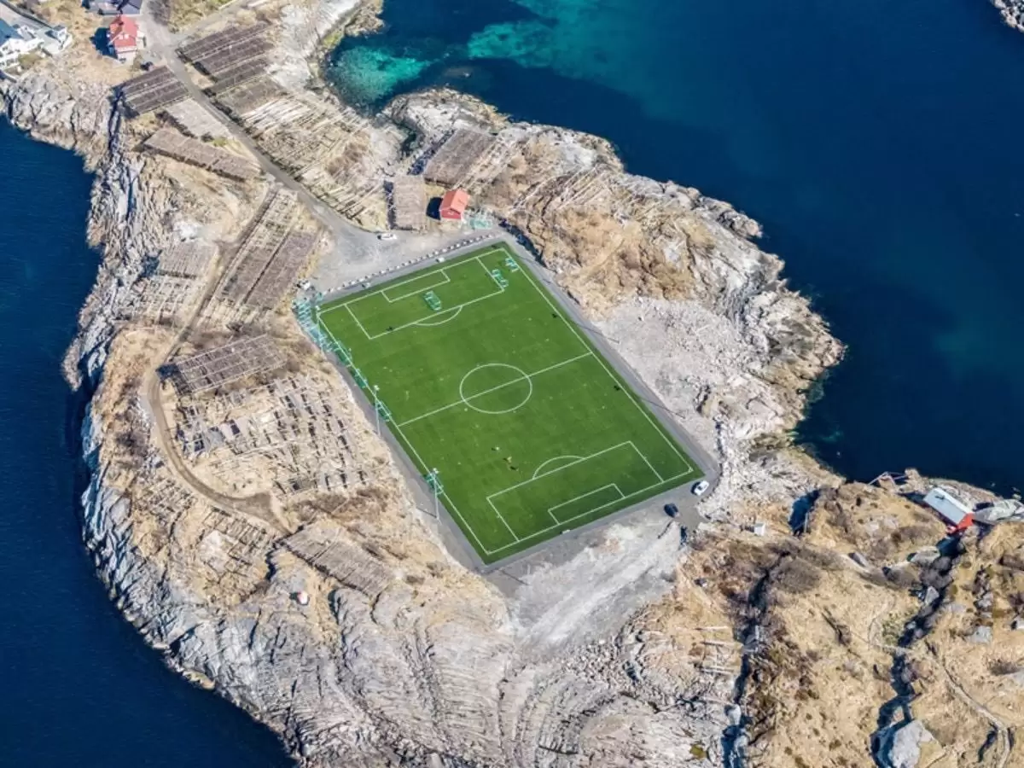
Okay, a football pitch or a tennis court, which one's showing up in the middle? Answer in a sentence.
It is a football pitch that can be seen in the middle.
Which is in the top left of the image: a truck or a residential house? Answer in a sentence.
You can see a residential house in the top left of the image.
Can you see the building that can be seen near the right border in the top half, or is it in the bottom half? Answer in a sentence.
The building that can be seen near the right border sits in the bottom half of the picture.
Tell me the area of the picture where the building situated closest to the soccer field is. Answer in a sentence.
You can find the building situated closest to the soccer field in the top area of the picture.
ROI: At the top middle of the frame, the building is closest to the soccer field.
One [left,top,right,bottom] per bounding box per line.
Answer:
[441,189,466,219]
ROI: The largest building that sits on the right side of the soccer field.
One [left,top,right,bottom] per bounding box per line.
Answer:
[917,482,976,545]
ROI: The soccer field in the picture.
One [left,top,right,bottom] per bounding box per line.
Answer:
[309,240,705,564]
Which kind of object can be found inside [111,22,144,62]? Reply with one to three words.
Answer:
house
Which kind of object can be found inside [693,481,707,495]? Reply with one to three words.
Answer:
car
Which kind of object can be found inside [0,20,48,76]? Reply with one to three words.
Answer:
house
